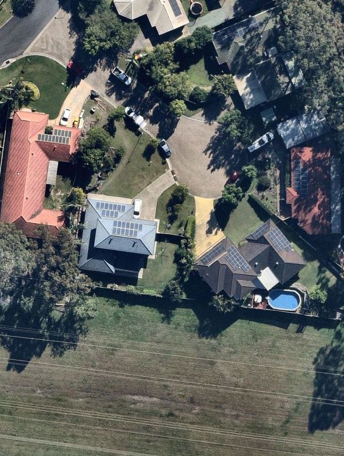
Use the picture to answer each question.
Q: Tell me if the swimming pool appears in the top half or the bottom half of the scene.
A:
bottom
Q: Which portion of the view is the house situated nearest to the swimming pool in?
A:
right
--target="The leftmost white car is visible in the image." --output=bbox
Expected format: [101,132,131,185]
[59,107,71,126]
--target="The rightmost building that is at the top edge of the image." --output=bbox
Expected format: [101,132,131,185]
[209,5,308,109]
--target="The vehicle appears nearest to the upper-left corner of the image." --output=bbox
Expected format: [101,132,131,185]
[63,56,76,73]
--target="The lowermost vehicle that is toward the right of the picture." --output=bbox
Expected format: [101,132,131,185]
[227,167,242,185]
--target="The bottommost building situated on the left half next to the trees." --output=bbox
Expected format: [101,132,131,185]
[78,198,158,279]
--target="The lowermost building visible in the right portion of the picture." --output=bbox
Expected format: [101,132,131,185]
[192,216,309,299]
